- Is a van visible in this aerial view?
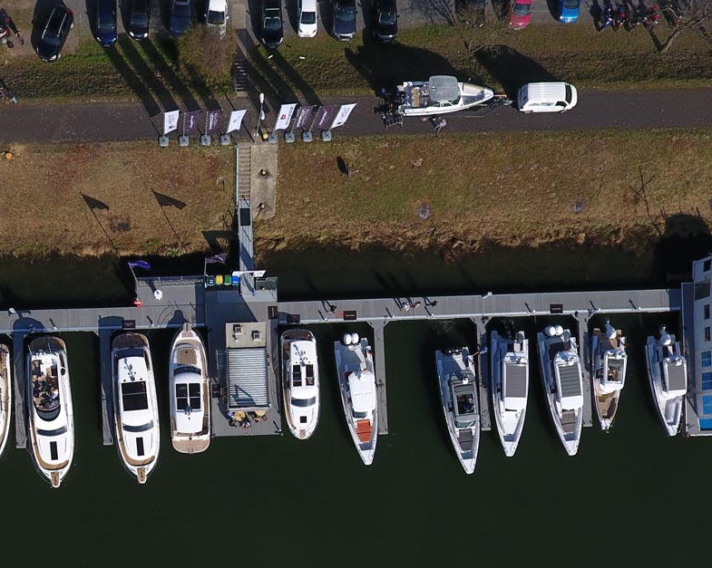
Yes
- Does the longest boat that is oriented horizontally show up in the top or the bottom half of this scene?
top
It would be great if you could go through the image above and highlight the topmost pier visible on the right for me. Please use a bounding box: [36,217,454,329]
[279,288,681,324]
